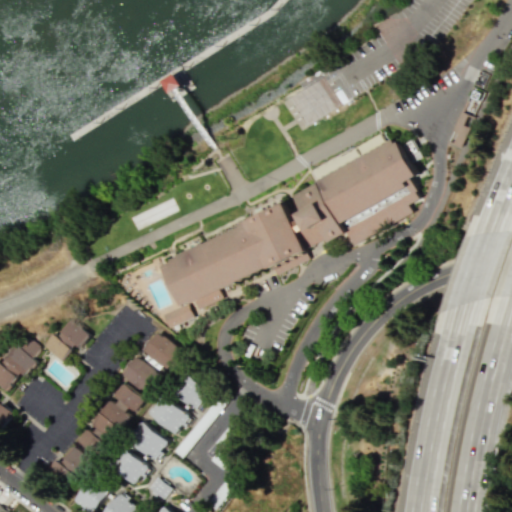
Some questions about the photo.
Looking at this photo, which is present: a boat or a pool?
pool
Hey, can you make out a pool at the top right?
No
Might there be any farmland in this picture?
No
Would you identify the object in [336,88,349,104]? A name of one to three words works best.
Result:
vehicle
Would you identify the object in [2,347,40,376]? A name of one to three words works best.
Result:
house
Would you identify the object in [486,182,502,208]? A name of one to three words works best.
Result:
vehicle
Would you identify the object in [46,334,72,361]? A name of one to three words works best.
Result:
building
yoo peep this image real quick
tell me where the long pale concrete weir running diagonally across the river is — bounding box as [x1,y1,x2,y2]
[71,0,291,139]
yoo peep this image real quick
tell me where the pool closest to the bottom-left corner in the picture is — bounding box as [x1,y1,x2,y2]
[44,354,80,392]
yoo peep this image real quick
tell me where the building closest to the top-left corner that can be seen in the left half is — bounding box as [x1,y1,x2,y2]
[161,75,189,102]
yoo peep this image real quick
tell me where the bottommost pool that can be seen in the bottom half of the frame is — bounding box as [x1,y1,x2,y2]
[162,458,206,497]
